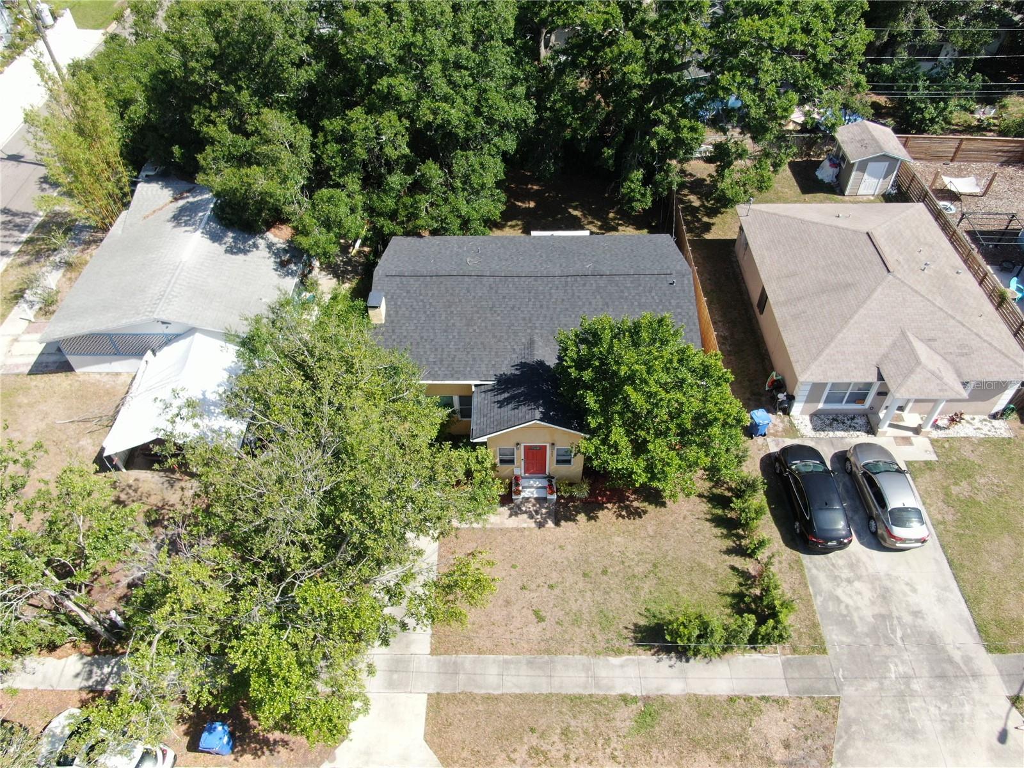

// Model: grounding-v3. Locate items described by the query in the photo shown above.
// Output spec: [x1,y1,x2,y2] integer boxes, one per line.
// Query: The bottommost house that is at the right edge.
[736,196,1024,438]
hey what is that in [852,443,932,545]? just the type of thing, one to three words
car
